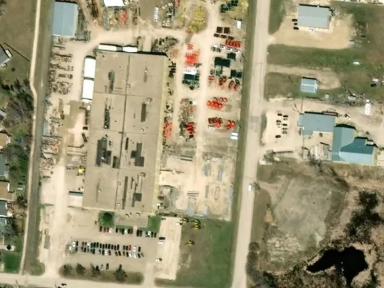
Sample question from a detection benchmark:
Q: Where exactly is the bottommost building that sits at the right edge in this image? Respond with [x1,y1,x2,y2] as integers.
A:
[298,114,377,166]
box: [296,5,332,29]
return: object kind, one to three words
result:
shed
